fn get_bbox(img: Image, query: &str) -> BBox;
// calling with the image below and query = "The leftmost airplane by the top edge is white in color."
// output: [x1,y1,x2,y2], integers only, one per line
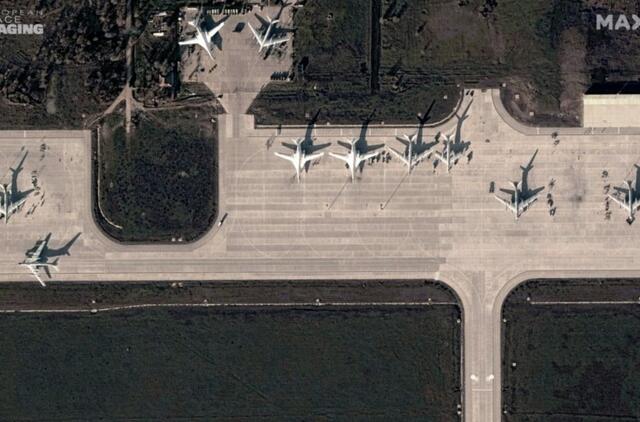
[179,16,223,59]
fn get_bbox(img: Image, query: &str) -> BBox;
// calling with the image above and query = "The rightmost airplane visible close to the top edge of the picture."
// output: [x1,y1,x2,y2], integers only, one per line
[248,13,290,54]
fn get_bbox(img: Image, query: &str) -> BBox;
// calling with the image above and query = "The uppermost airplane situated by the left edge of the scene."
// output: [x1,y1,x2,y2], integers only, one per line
[0,181,28,223]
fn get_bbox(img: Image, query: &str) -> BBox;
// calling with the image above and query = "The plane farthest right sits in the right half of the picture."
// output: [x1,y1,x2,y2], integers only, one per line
[609,179,640,221]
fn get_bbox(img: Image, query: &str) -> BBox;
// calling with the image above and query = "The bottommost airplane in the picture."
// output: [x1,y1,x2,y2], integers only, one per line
[19,242,60,286]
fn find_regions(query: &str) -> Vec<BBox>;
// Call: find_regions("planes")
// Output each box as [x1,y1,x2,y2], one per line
[434,131,463,173]
[19,242,60,286]
[248,13,290,54]
[0,181,28,223]
[388,133,432,174]
[495,179,539,219]
[179,16,223,59]
[609,179,640,221]
[329,136,379,183]
[274,136,323,183]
